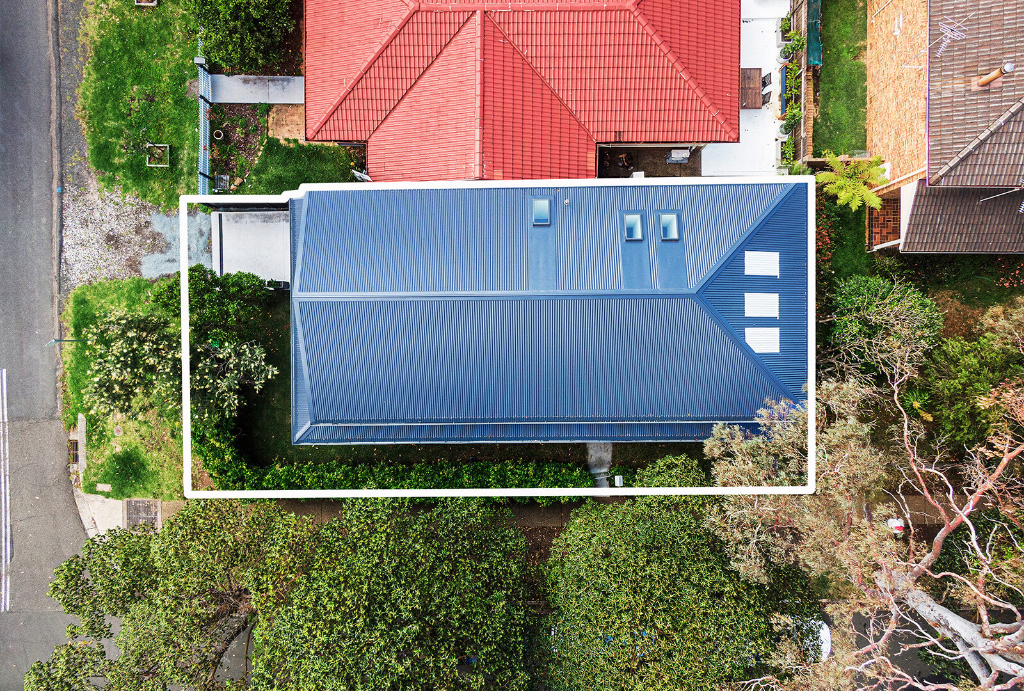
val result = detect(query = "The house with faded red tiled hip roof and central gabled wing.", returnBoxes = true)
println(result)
[301,0,744,188]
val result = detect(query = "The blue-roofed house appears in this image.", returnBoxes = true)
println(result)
[288,184,812,446]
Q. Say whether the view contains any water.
No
